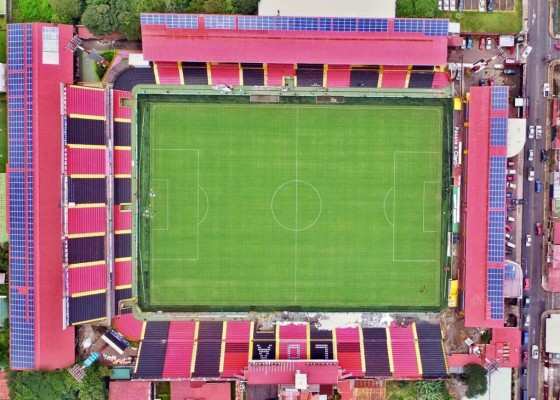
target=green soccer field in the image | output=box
[150,103,444,306]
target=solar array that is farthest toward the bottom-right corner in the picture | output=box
[488,268,505,320]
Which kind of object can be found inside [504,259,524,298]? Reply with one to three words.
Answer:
building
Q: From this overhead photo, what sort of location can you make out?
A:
sports ground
